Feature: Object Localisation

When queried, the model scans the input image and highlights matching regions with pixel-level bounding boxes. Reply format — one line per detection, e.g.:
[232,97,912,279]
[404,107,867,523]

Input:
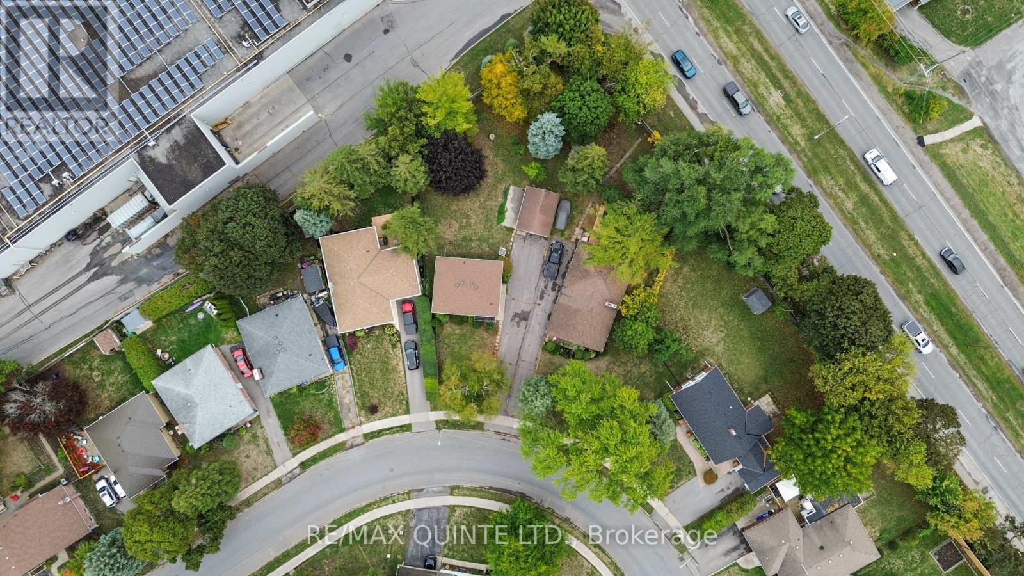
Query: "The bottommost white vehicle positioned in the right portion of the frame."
[900,318,935,356]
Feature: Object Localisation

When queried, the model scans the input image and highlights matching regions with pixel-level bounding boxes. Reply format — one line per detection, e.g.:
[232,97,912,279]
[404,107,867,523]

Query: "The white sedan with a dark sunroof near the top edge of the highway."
[784,4,812,36]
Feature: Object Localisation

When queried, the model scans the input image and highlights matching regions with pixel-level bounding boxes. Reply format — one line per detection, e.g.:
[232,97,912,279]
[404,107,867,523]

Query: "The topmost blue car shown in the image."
[670,47,697,80]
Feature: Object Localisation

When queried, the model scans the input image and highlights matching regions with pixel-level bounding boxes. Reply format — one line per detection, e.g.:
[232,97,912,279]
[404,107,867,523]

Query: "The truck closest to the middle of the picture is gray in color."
[542,240,563,279]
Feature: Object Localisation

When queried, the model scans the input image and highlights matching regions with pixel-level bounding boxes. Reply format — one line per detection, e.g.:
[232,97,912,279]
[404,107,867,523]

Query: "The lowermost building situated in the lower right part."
[740,502,882,576]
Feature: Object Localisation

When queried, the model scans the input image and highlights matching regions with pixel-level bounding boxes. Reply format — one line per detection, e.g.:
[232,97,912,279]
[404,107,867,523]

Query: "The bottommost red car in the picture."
[230,347,253,380]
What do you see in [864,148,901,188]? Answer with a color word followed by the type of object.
white truck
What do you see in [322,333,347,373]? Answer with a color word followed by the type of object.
blue truck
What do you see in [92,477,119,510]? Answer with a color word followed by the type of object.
white car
